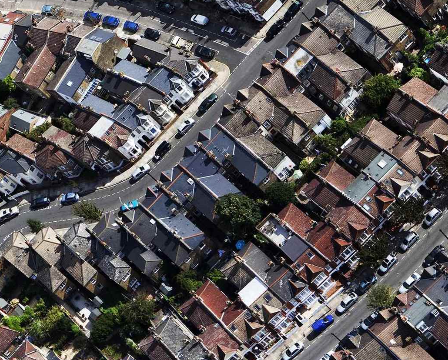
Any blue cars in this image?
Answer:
Yes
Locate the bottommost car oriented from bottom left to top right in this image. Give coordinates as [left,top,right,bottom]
[281,341,305,360]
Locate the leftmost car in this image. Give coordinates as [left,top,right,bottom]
[0,207,19,223]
